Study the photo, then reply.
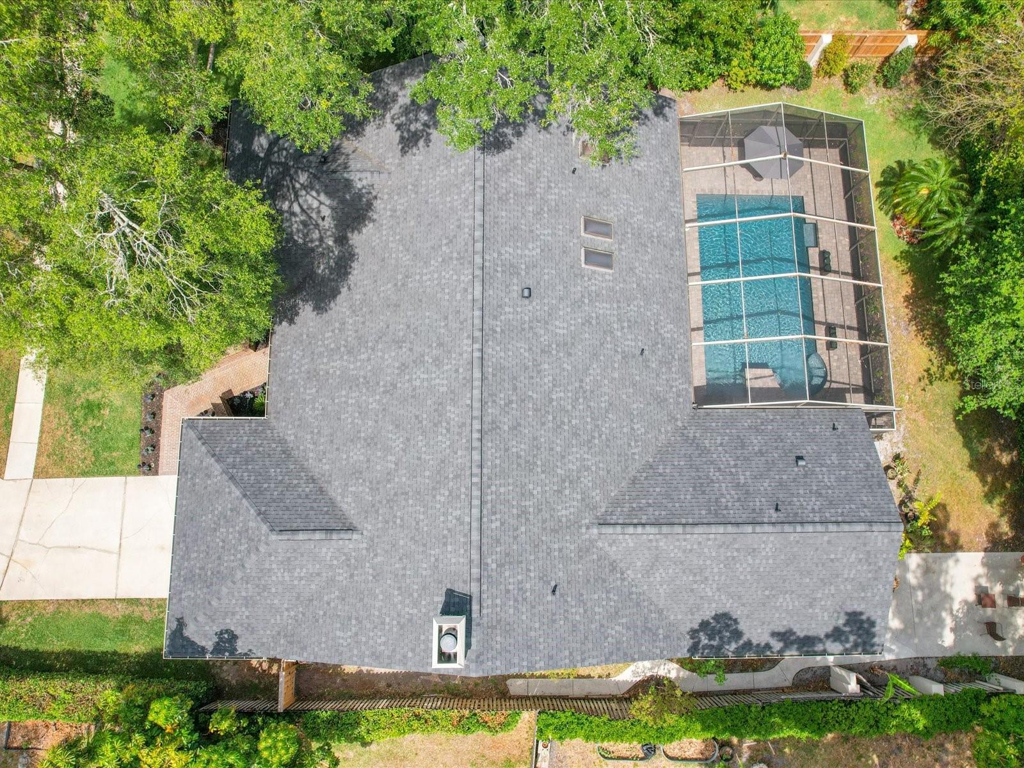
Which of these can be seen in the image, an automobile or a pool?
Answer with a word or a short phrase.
pool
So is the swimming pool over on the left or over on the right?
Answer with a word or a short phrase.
right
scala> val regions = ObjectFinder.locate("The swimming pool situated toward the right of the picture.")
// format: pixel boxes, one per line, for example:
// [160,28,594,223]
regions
[697,194,834,409]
